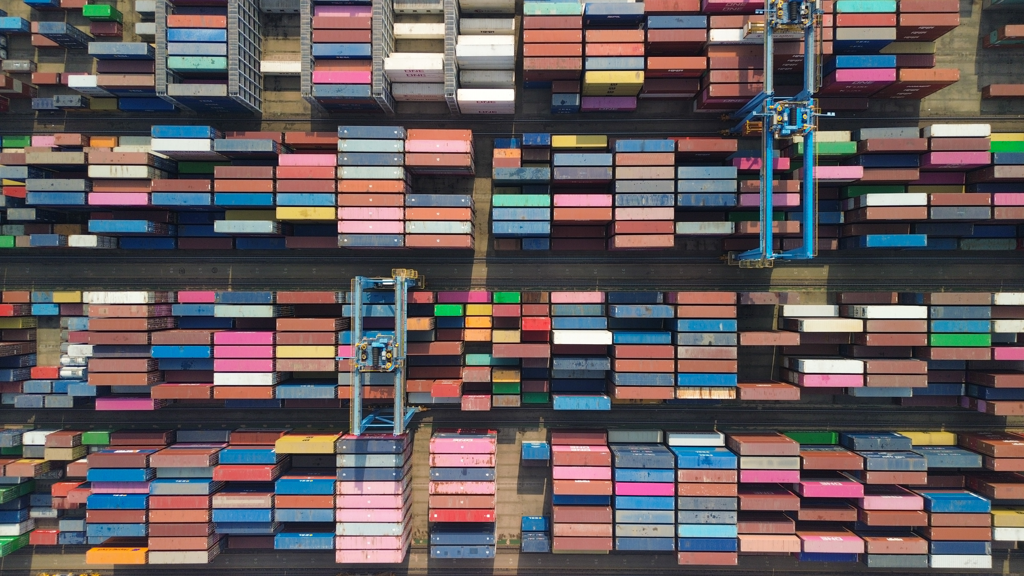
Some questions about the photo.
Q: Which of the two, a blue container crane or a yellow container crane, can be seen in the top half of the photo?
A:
blue container crane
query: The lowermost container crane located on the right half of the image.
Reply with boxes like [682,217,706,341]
[712,96,835,271]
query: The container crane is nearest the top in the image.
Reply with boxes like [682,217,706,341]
[713,0,821,121]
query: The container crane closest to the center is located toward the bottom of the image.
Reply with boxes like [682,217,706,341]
[335,268,434,439]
